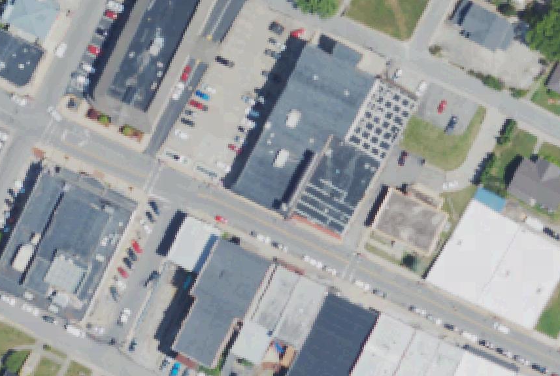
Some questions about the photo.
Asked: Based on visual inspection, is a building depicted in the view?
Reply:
Yes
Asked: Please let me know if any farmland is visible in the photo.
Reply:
No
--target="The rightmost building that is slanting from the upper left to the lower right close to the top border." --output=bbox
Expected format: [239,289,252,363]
[450,0,527,53]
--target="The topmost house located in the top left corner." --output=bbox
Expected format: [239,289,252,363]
[1,0,60,43]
